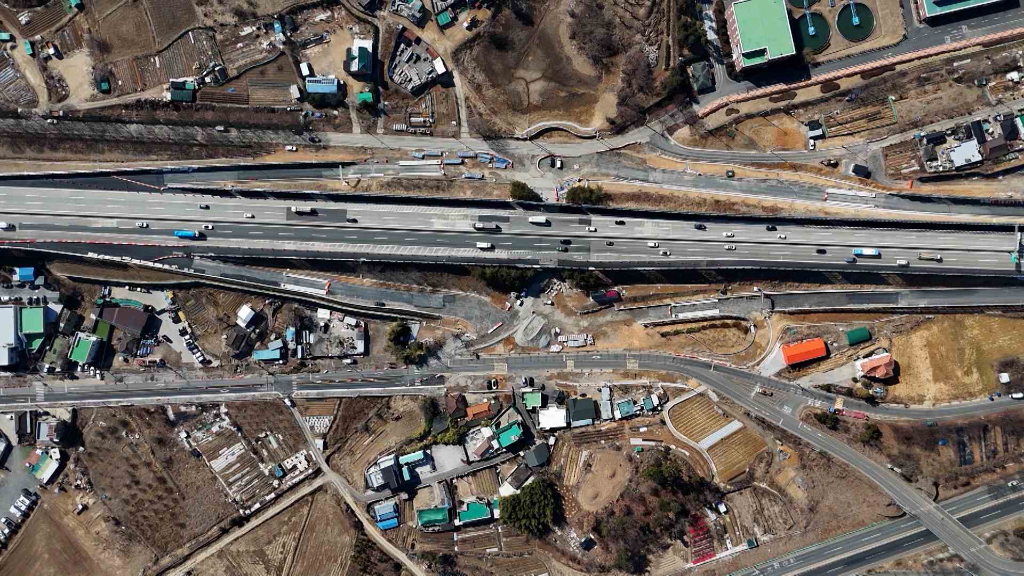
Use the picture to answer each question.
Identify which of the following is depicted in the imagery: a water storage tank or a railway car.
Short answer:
water storage tank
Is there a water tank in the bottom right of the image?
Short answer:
No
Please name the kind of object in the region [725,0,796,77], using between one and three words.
building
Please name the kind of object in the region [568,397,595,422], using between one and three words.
house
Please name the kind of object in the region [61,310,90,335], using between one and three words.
barn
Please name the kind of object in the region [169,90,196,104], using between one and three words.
shed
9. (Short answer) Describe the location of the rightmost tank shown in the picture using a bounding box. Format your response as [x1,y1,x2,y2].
[835,0,877,42]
